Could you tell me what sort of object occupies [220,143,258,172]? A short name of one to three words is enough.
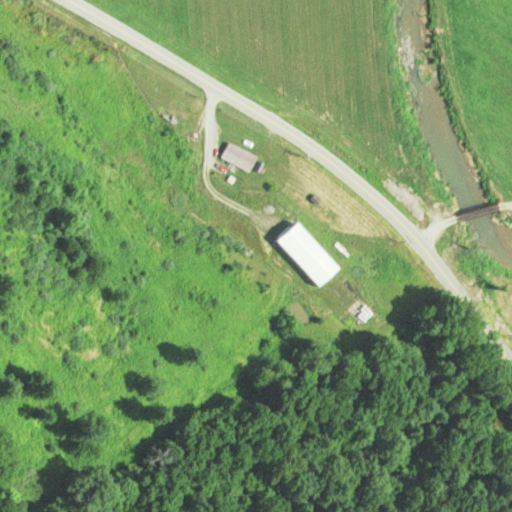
house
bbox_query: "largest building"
[277,222,340,287]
